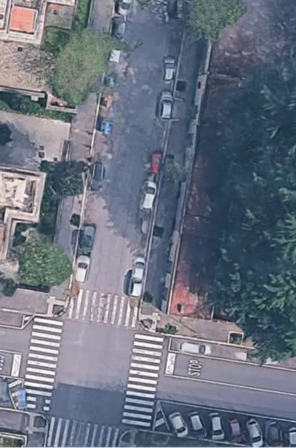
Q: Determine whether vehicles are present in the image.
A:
Yes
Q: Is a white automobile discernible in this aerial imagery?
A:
Yes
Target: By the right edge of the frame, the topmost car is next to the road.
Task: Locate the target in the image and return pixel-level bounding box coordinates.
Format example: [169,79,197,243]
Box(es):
[261,357,282,370]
